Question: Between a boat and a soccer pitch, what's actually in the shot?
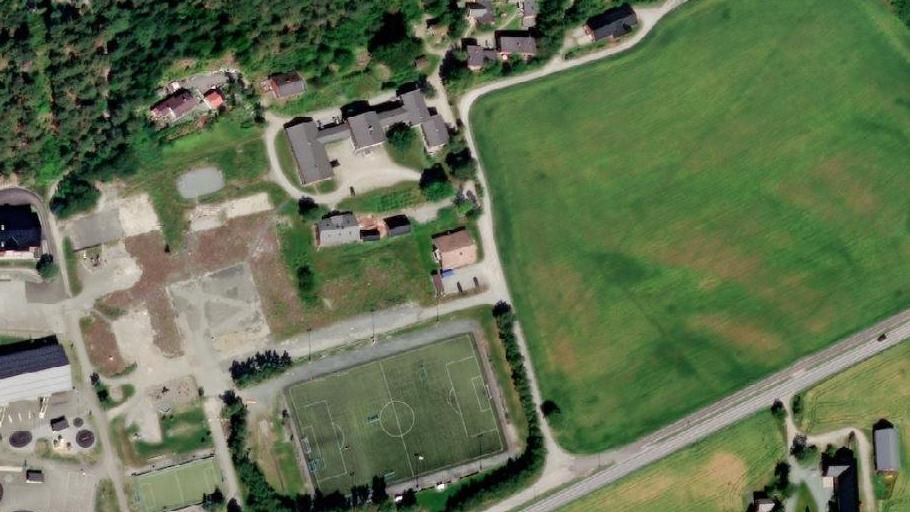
soccer pitch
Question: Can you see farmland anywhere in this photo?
Yes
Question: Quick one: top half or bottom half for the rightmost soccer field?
bottom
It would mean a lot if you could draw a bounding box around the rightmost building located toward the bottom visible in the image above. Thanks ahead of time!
[872,428,901,472]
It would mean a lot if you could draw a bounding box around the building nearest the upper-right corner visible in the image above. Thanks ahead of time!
[584,5,637,43]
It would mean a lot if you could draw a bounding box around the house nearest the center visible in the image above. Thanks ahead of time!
[431,228,475,269]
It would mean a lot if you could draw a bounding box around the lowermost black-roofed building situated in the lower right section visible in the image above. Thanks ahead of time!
[824,470,861,512]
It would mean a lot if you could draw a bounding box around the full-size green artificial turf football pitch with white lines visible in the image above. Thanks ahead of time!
[282,327,512,505]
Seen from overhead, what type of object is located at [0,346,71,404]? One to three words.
building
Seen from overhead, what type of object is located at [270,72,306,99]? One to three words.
house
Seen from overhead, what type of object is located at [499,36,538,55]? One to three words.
house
